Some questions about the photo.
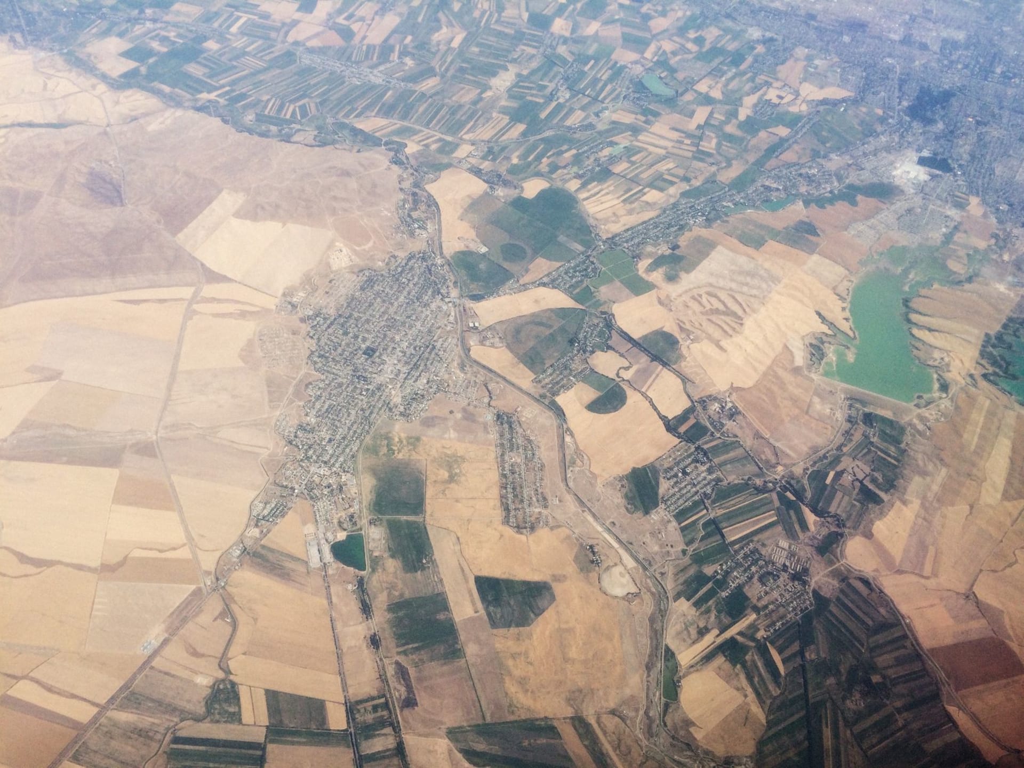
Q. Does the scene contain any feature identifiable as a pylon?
No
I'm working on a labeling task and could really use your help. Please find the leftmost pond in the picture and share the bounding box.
[822,268,936,403]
